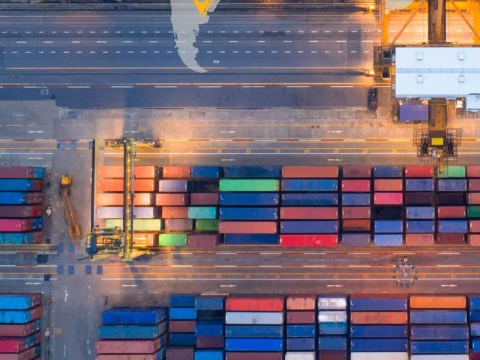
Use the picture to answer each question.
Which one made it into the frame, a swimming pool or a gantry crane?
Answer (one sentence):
This aerial view contains a gantry crane.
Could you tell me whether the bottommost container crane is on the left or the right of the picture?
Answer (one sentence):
The bottommost container crane appears in the left half of the scene.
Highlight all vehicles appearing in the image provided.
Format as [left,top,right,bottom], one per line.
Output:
[56,175,81,242]
[369,87,377,110]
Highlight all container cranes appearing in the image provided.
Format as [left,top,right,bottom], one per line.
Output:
[88,132,157,264]
[365,0,480,168]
